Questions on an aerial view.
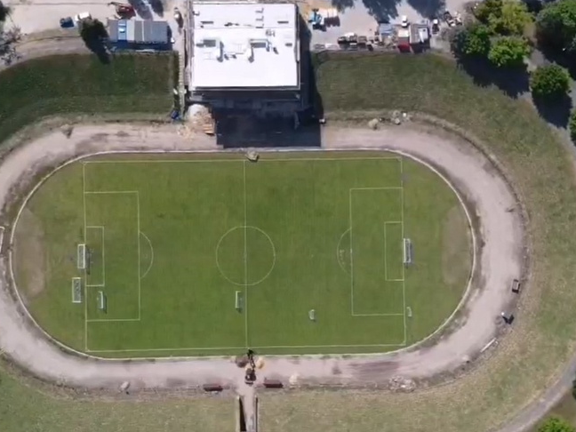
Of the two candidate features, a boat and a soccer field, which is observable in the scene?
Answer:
soccer field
